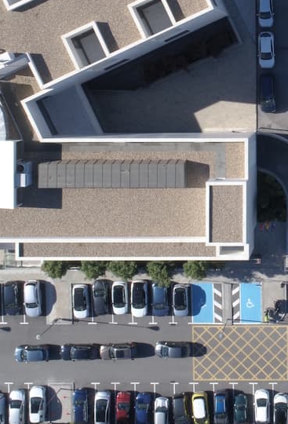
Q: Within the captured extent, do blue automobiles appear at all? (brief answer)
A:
Yes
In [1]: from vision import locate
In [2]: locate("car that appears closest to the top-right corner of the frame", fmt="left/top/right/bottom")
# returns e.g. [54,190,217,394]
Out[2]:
[255,0,275,29]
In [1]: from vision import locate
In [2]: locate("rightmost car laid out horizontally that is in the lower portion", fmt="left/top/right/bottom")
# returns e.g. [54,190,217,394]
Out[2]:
[156,342,193,359]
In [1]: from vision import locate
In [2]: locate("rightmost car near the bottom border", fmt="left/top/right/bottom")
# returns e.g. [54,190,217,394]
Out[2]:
[272,392,288,424]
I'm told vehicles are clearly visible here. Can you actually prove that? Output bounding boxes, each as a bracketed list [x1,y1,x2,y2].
[61,344,97,362]
[90,280,109,314]
[27,386,46,423]
[72,388,90,424]
[151,283,168,316]
[15,344,50,363]
[24,280,42,316]
[256,31,275,70]
[92,391,112,424]
[156,342,193,359]
[253,388,270,422]
[114,391,132,424]
[2,281,22,315]
[134,391,152,424]
[0,392,7,424]
[129,280,148,316]
[7,389,27,424]
[153,397,169,424]
[193,391,209,424]
[255,0,275,29]
[171,284,189,316]
[272,392,288,424]
[72,284,89,317]
[212,389,229,423]
[100,343,136,362]
[258,73,277,113]
[111,281,128,314]
[232,393,248,423]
